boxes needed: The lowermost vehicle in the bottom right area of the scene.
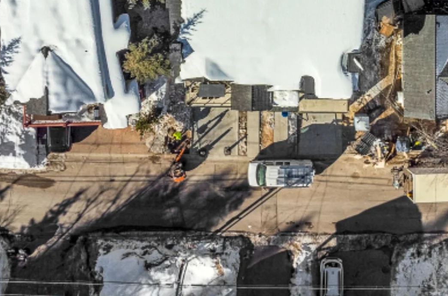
[320,257,345,296]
